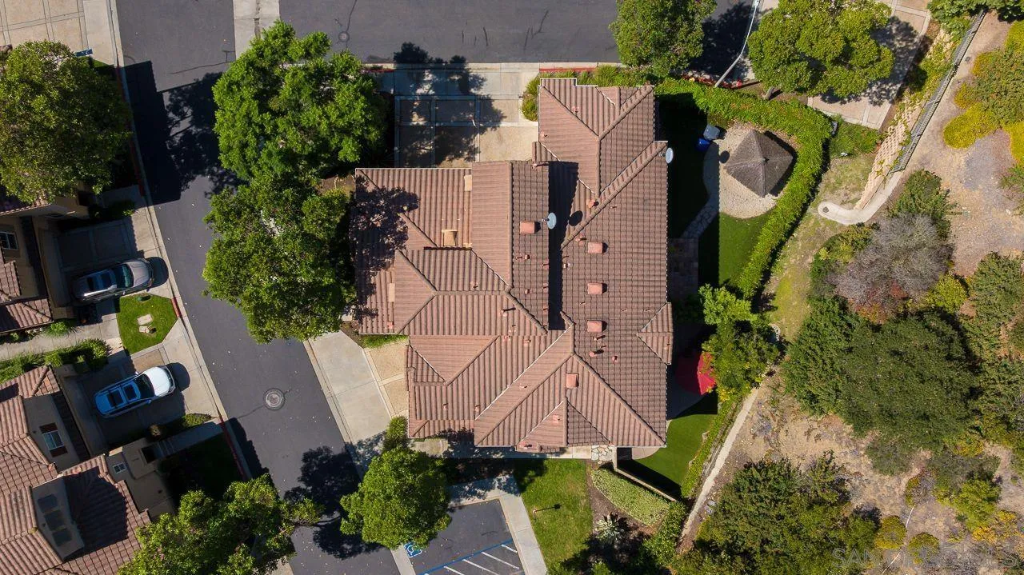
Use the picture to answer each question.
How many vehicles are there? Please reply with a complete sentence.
I count 2 vehicles.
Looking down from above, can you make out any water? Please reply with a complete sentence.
No, the scene doesn't show any water.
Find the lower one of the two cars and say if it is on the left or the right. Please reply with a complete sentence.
It is on the left.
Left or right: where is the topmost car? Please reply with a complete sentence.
You can find the topmost car on the left side of the picture.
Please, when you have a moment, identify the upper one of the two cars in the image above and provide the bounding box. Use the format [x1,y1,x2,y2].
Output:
[62,256,153,304]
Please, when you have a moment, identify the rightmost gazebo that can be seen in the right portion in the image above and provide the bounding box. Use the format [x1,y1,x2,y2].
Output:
[723,128,795,198]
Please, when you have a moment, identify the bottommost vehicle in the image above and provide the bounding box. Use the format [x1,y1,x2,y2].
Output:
[84,366,174,421]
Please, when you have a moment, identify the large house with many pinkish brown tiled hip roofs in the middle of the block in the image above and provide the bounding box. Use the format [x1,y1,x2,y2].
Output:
[355,77,679,454]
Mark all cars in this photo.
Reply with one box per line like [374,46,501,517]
[84,366,174,421]
[62,256,153,304]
